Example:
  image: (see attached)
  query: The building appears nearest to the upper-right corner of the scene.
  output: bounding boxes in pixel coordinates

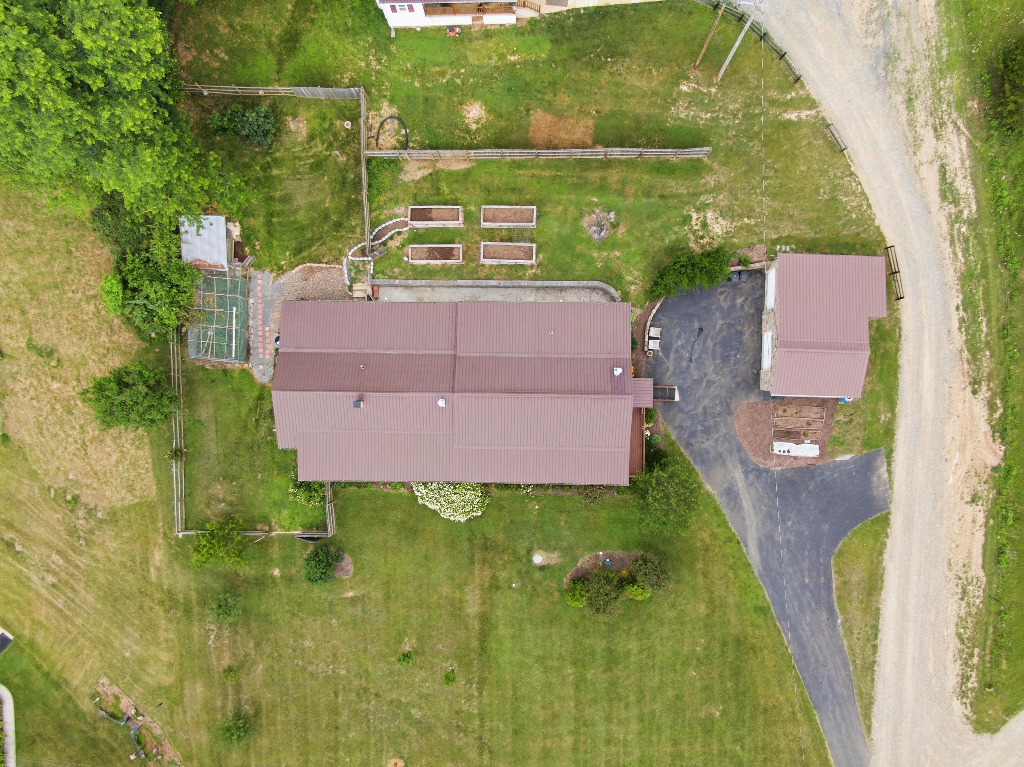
[761,253,886,399]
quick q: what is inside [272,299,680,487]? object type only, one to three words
house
